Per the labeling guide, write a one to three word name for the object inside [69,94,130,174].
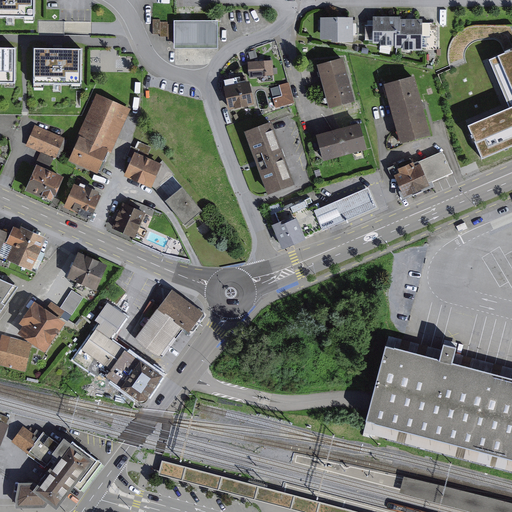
barn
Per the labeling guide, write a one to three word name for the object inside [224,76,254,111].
house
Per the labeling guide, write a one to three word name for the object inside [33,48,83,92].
building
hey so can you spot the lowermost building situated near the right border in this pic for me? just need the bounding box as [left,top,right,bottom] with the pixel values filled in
[363,344,512,474]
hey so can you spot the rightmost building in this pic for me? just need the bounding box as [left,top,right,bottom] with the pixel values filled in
[467,48,512,158]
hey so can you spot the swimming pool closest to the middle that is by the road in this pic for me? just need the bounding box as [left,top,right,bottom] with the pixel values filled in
[146,231,168,248]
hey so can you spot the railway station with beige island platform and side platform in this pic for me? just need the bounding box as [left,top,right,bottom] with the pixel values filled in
[283,453,403,512]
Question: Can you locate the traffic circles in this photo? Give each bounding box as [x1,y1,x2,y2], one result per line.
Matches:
[205,267,256,318]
